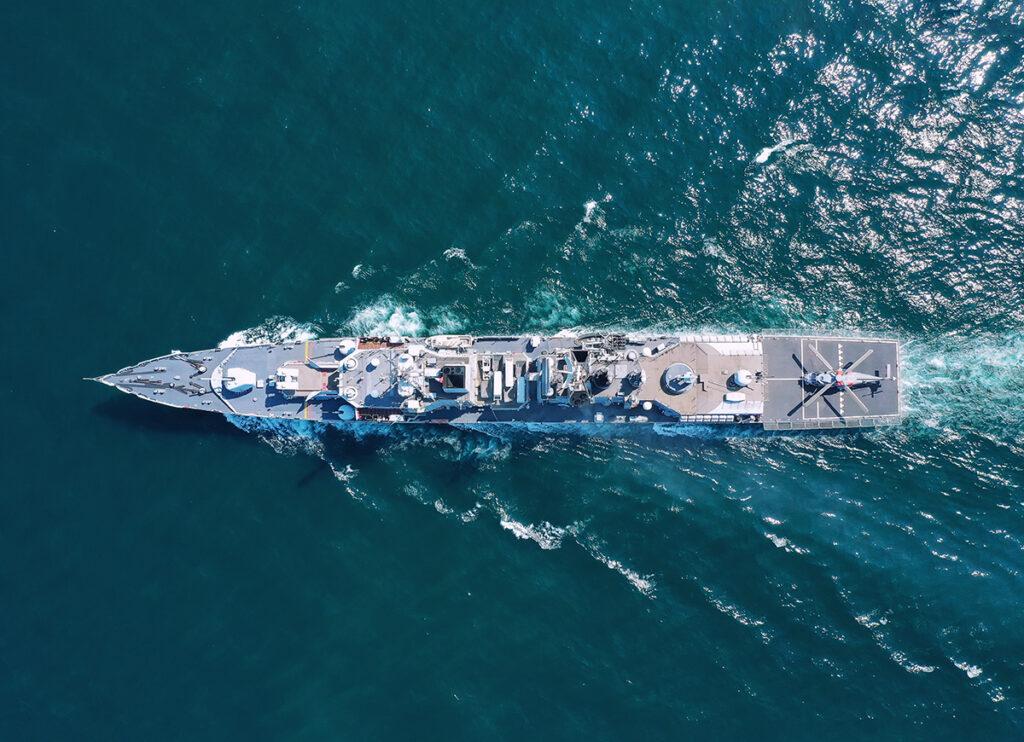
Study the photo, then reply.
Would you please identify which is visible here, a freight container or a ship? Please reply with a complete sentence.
The one in the frame is a ship.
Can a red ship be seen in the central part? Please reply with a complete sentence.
No, looking in the central part, there is no red ship.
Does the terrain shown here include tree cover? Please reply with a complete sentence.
No, there is no tree cover in the image.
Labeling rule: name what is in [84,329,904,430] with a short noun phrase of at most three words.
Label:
ship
